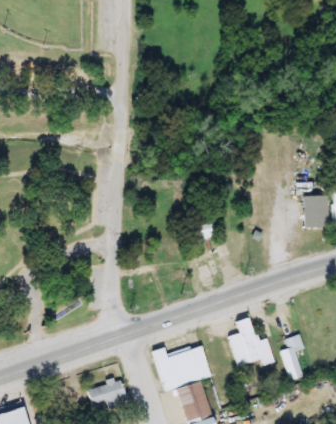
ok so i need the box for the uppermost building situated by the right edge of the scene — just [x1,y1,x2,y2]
[302,196,328,228]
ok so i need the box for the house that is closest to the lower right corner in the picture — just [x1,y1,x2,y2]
[279,334,304,381]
